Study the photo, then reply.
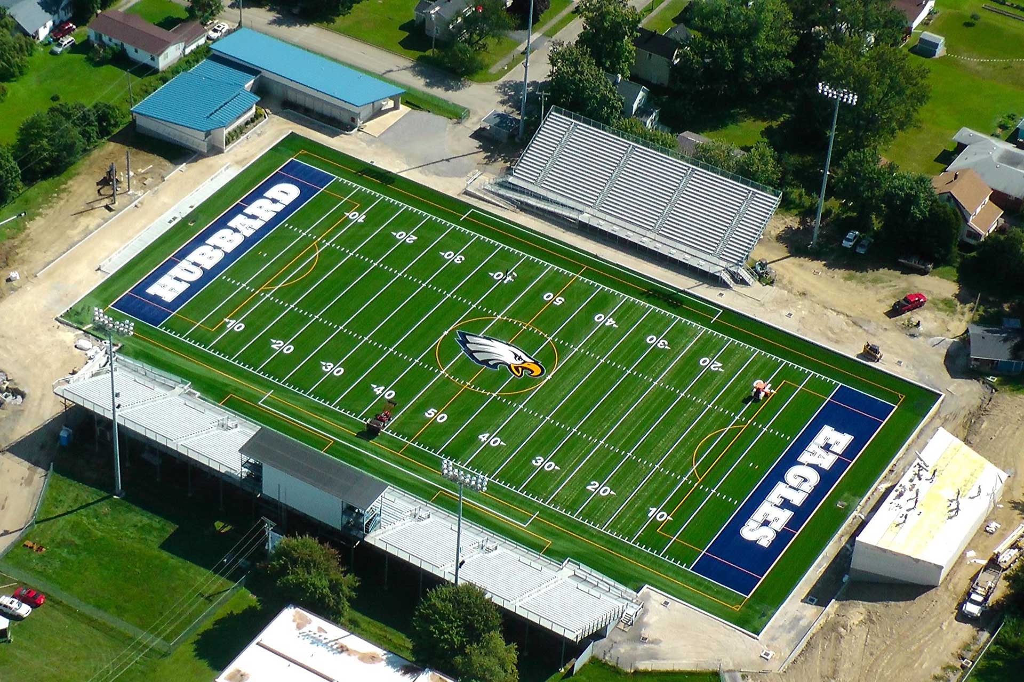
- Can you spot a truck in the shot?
Yes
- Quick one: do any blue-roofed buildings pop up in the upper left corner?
Yes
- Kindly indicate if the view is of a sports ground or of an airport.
sports ground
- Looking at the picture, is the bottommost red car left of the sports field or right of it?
on the left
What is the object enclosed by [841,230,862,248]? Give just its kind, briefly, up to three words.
car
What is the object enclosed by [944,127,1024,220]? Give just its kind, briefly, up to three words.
house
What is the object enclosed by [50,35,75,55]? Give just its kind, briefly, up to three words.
vehicle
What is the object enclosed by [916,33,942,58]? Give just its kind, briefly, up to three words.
shed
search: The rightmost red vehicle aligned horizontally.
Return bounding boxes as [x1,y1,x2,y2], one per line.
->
[892,295,927,314]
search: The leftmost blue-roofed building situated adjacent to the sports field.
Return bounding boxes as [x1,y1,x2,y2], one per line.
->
[131,58,261,153]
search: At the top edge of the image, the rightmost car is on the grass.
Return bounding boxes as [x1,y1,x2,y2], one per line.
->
[206,22,228,39]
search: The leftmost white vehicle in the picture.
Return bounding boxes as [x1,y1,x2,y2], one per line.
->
[0,594,31,620]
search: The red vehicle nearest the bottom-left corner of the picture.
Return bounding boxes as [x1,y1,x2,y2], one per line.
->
[11,587,47,609]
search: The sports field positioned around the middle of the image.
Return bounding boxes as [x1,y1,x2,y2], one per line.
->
[58,133,942,636]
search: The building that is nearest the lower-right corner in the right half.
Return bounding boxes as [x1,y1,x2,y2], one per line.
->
[844,425,1010,586]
